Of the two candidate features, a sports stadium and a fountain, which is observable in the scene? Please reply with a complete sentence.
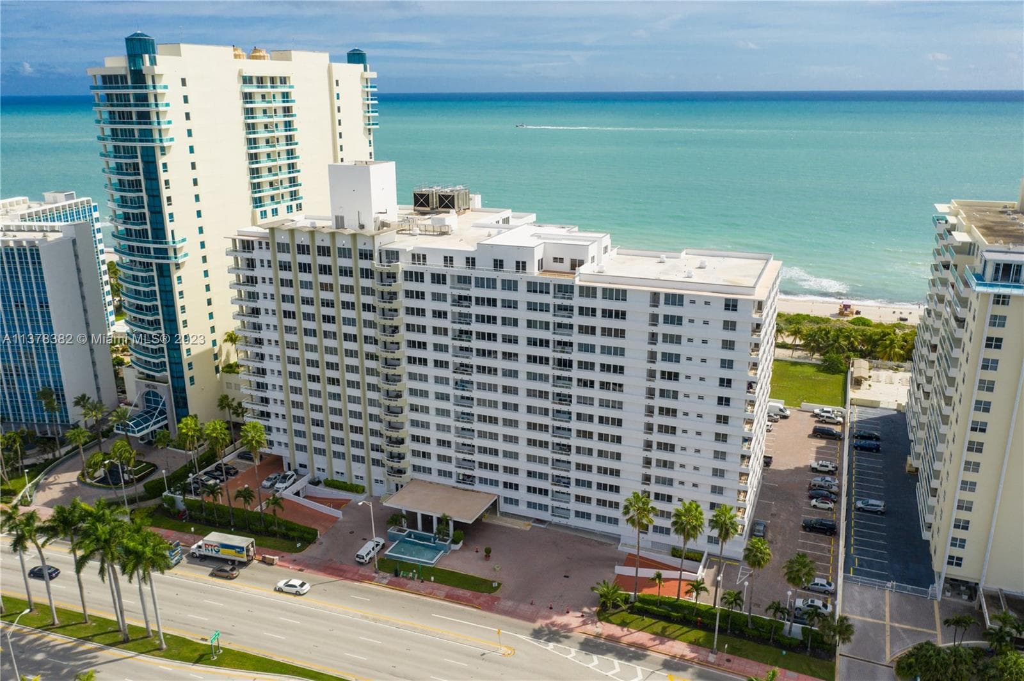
There is a fountain in the scene.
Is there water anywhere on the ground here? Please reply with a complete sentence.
Yes, water shows up in the scene.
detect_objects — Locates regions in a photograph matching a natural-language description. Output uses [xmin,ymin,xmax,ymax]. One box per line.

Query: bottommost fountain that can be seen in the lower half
[384,525,456,567]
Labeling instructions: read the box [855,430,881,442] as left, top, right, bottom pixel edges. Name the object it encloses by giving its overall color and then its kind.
black vehicle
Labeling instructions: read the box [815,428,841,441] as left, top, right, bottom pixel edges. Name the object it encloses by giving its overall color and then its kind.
black vehicle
